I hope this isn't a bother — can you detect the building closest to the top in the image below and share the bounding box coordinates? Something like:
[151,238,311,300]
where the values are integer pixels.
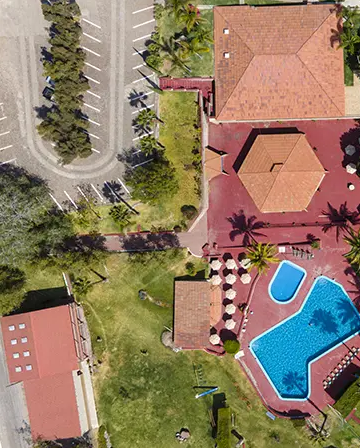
[214,0,360,124]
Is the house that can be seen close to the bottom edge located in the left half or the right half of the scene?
left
